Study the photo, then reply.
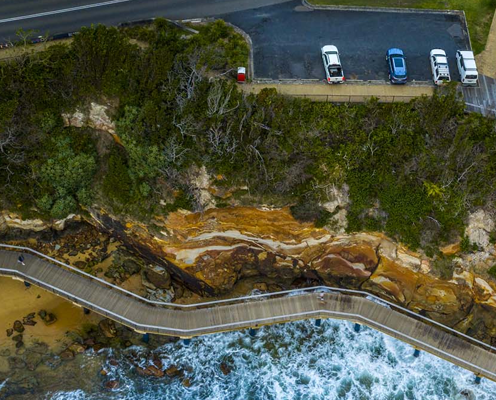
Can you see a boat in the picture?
No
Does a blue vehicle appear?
Yes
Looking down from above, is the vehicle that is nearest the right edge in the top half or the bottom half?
top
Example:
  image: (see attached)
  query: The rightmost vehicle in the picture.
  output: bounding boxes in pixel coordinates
[455,46,481,81]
